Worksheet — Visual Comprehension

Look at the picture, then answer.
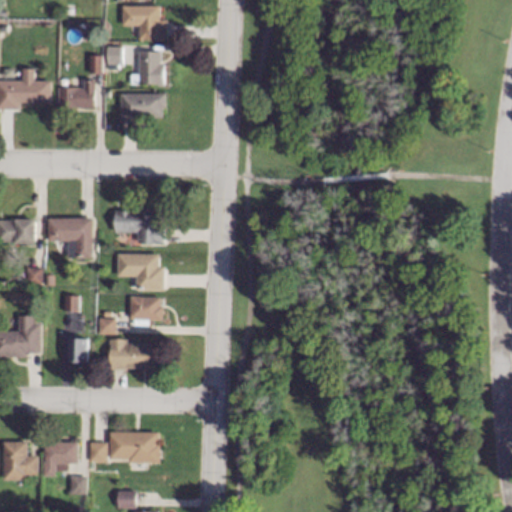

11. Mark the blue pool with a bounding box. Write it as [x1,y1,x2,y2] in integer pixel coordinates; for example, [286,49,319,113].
[66,28,86,45]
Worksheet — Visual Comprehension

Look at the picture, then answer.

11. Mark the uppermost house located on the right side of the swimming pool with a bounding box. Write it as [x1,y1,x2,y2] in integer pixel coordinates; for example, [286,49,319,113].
[122,6,163,42]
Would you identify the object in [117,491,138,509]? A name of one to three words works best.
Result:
building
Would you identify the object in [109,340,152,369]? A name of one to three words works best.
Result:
house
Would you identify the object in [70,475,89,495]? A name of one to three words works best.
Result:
building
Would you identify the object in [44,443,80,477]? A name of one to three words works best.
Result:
house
